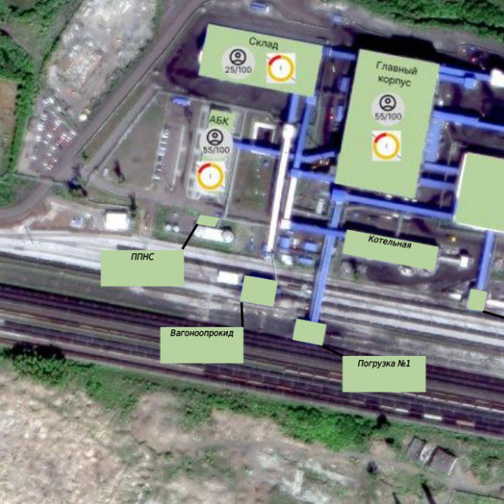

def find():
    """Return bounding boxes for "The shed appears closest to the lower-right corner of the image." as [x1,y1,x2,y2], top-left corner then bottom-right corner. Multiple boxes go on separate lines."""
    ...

[427,446,456,474]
